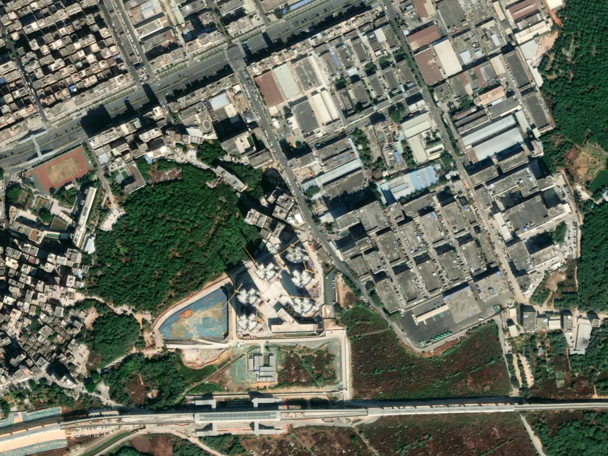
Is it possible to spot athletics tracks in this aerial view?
Yes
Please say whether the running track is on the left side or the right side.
left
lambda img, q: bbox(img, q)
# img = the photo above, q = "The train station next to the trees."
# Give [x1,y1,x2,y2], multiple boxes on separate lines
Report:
[193,398,285,436]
